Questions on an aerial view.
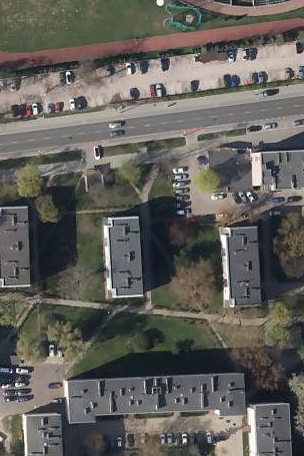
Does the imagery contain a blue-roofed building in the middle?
No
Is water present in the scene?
No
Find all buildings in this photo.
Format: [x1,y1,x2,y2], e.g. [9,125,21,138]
[250,150,304,192]
[23,413,63,456]
[248,402,291,456]
[65,373,245,424]
[0,207,31,287]
[103,216,143,297]
[224,227,261,307]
